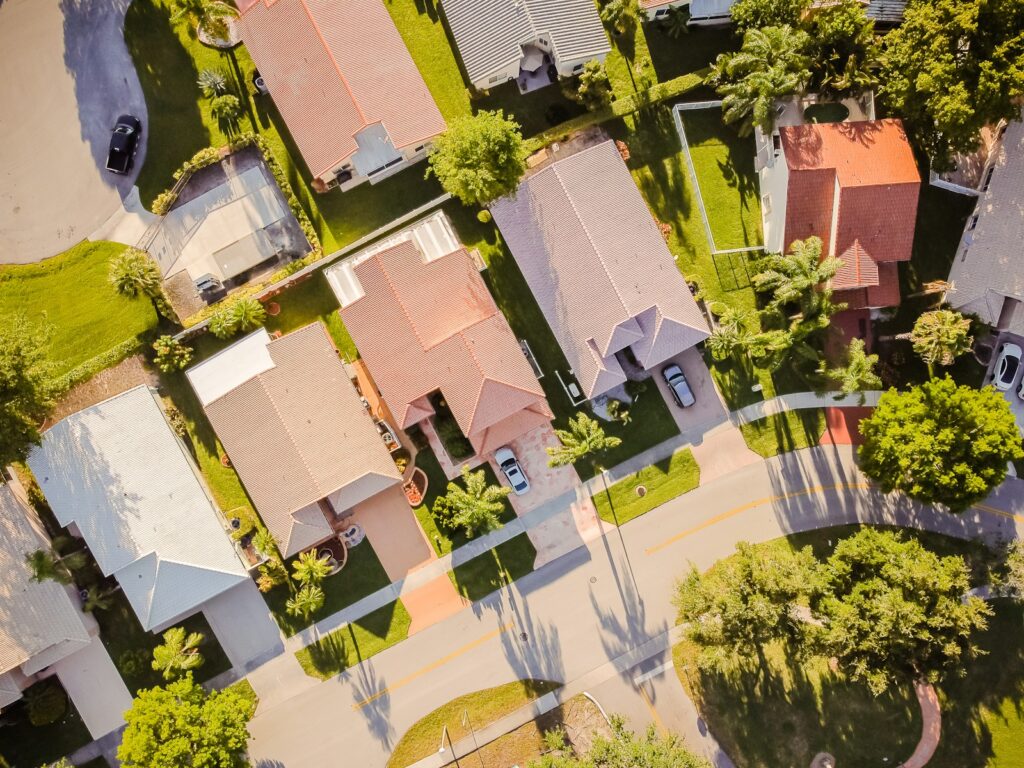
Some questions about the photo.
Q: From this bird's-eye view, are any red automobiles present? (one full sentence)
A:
No, the frame has no red automobile in it.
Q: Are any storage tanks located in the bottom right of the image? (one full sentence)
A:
No, no storage tank appears in the bottom right of the image.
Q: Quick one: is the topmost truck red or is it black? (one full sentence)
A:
The color of the topmost truck is black.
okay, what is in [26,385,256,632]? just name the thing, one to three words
house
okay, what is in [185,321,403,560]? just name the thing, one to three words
house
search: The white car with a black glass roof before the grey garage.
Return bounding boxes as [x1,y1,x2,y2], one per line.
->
[989,342,1022,391]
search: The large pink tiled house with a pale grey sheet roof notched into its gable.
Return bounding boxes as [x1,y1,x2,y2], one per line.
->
[229,0,446,199]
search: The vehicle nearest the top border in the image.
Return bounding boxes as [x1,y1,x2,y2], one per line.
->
[105,113,140,177]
